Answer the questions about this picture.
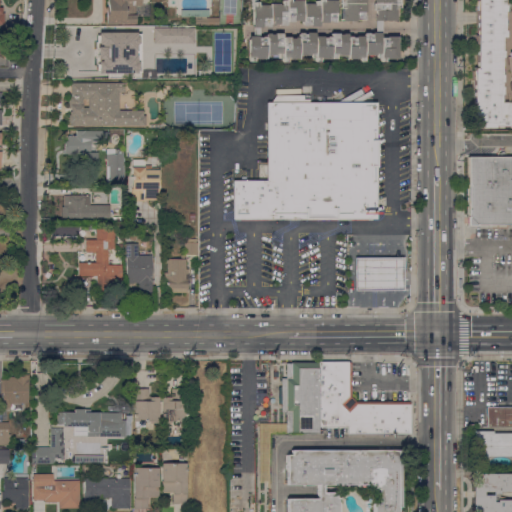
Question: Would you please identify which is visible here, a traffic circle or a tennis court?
tennis court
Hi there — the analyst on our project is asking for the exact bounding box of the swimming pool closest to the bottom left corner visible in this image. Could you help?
[12,452,27,474]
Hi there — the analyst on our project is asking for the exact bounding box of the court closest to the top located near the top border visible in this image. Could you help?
[220,0,242,24]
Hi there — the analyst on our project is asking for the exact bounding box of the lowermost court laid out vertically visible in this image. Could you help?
[214,32,232,74]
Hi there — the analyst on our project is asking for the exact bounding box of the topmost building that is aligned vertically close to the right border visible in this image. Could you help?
[476,0,512,127]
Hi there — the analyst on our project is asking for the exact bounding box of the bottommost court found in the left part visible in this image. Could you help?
[164,97,236,128]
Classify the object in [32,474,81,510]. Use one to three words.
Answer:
house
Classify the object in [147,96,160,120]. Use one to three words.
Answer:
swimming pool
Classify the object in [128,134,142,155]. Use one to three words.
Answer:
swimming pool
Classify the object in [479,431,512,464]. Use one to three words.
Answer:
building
